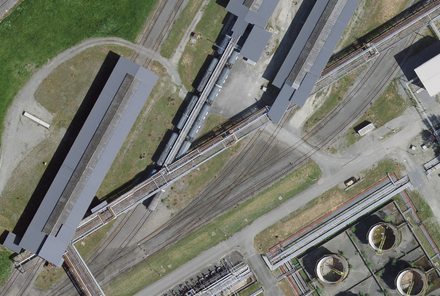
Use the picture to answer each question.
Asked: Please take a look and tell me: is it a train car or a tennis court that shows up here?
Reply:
train car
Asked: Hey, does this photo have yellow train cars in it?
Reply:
No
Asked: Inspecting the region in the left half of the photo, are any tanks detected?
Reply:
No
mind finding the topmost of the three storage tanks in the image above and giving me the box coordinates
[366,222,398,254]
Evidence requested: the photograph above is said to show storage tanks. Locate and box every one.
[396,266,428,296]
[316,254,348,285]
[366,222,398,254]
